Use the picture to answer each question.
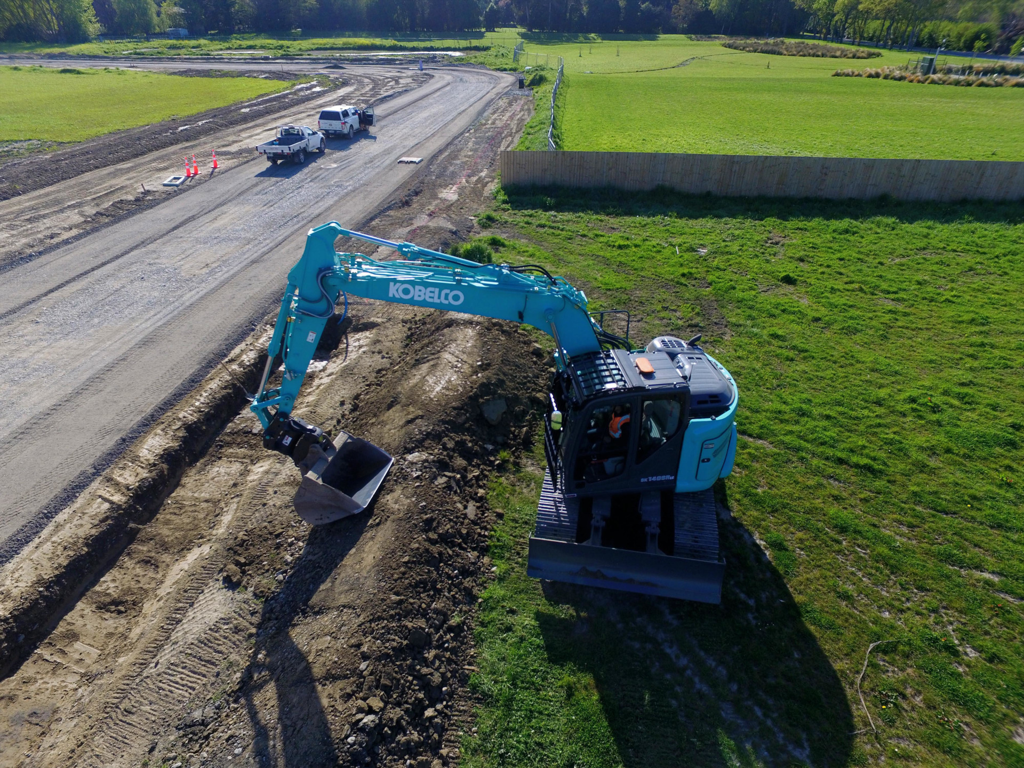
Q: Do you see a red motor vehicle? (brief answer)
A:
No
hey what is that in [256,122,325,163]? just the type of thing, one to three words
truck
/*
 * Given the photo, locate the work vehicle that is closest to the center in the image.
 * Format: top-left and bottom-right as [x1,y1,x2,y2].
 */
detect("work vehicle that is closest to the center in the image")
[247,214,742,604]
